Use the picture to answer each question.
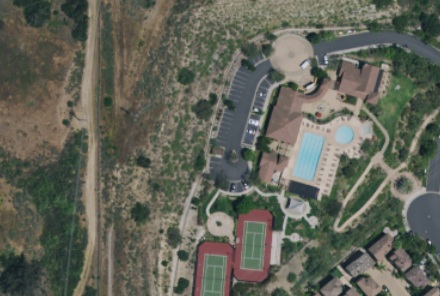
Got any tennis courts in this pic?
Yes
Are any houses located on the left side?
No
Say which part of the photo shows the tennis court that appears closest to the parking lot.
bottom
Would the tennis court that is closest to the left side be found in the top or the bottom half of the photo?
bottom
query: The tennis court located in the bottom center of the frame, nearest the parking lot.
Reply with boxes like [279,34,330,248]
[234,210,275,282]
